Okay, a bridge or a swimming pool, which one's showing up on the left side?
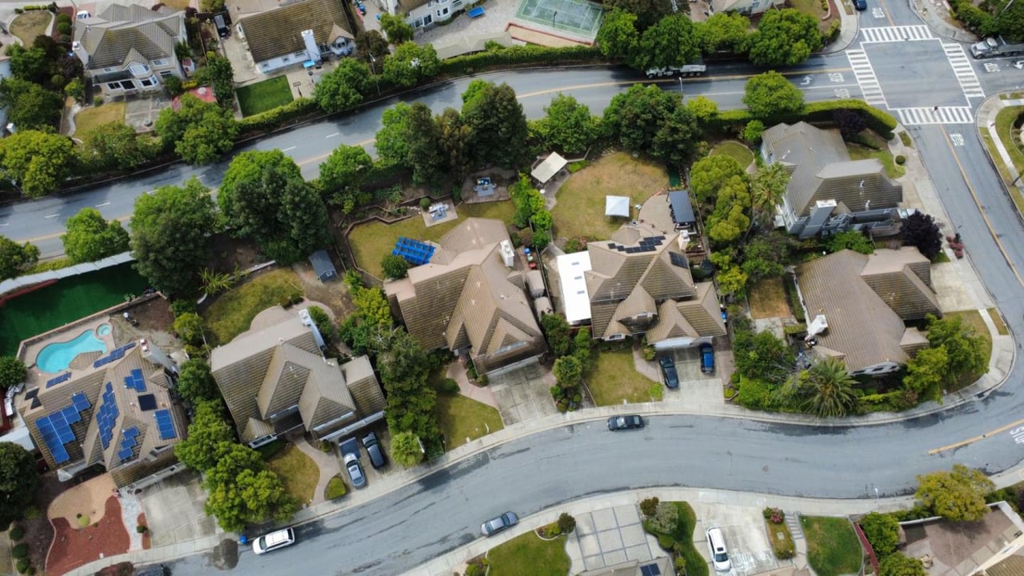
swimming pool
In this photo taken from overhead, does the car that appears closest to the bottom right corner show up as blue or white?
white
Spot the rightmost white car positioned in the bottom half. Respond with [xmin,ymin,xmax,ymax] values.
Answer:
[705,527,730,571]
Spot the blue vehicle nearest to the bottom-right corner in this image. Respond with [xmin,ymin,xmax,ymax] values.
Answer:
[700,344,716,375]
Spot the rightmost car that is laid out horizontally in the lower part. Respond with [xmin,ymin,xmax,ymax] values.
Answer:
[607,414,645,432]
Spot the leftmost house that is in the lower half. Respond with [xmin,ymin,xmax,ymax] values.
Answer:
[17,337,189,490]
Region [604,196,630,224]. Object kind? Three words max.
tent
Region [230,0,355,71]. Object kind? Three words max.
house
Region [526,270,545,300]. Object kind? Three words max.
shed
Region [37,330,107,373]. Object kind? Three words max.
swimming pool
